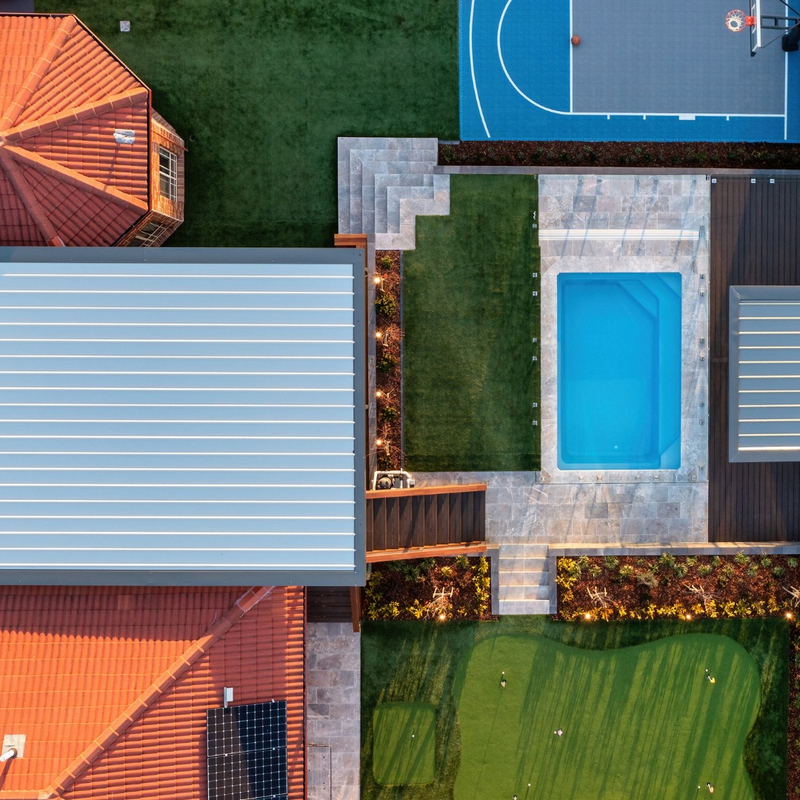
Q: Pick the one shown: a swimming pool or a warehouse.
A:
swimming pool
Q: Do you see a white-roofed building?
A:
No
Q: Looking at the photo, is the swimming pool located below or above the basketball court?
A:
below it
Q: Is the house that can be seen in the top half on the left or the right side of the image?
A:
left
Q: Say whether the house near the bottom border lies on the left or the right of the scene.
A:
left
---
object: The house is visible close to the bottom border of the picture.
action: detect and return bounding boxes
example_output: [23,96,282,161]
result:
[0,585,309,800]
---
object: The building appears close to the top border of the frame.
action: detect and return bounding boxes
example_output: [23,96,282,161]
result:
[0,12,188,249]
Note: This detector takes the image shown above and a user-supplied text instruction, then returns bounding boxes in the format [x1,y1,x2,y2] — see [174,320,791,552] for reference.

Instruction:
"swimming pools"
[540,256,698,486]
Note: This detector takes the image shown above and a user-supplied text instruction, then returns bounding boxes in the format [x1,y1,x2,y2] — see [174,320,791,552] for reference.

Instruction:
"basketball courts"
[459,0,800,141]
